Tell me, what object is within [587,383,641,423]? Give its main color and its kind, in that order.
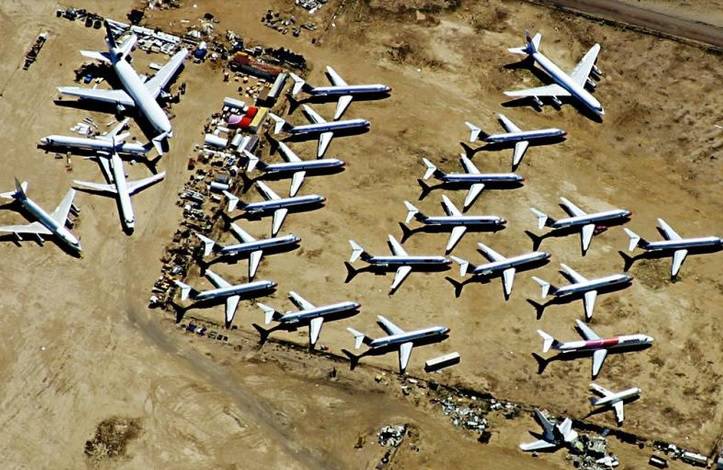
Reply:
white airplane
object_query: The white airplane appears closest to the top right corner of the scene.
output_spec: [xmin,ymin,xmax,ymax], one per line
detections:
[502,30,606,116]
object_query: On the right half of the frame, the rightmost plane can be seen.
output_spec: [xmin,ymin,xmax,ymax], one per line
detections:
[625,220,723,275]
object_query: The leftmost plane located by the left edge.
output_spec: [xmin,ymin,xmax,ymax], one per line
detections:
[0,176,82,251]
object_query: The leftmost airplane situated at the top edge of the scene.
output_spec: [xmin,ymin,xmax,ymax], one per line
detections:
[58,21,188,135]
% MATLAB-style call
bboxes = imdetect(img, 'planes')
[405,196,506,250]
[532,264,633,318]
[466,114,566,165]
[41,120,170,180]
[292,68,390,119]
[424,154,524,207]
[270,105,369,156]
[58,21,188,135]
[531,198,631,250]
[347,315,450,370]
[258,291,361,345]
[245,143,345,195]
[71,140,167,228]
[174,268,277,323]
[502,30,606,116]
[625,220,723,275]
[198,223,300,277]
[350,235,452,290]
[450,243,551,295]
[0,176,82,251]
[587,383,641,423]
[540,320,655,376]
[224,181,325,234]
